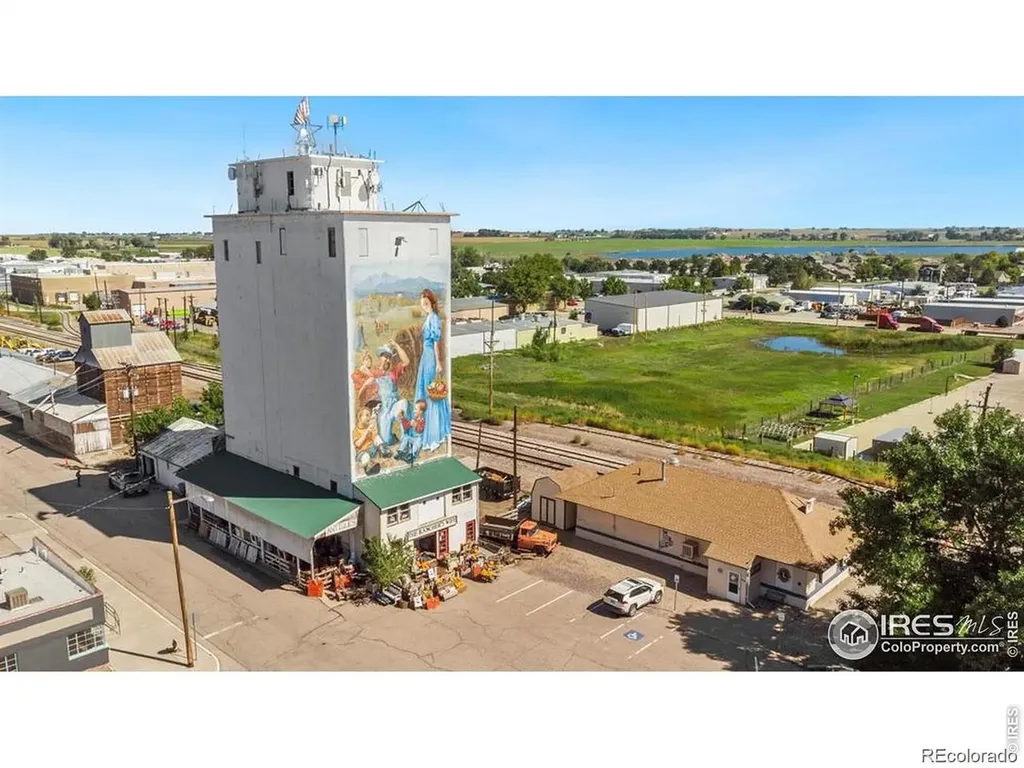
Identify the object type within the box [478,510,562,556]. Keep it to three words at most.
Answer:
truck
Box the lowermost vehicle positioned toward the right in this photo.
[601,573,662,615]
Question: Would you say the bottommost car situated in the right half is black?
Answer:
No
